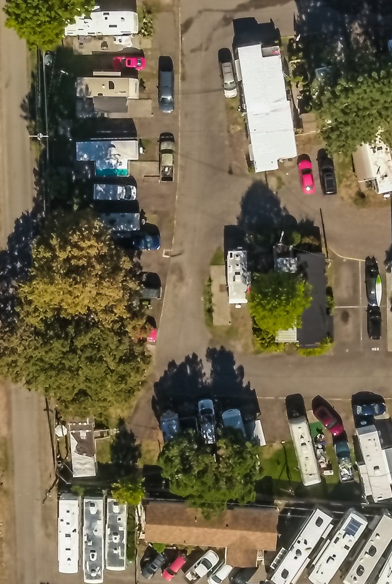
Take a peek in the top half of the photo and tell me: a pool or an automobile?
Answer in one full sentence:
The feature located in the top half of the photo is an automobile.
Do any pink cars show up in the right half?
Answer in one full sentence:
Yes, a pink car can be seen in the right half.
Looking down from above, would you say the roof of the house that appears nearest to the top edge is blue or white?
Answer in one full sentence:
The roof of the house that appears nearest to the top edge is white.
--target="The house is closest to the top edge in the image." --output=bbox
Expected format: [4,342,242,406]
[235,44,296,172]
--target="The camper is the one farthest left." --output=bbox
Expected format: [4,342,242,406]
[59,486,82,573]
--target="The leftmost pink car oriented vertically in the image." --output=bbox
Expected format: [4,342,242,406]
[296,160,314,195]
